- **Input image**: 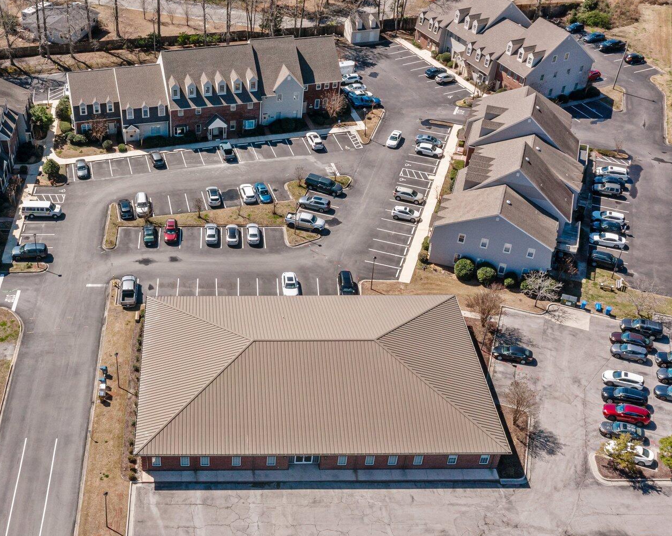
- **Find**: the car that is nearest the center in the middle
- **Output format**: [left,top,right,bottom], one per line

[337,269,356,296]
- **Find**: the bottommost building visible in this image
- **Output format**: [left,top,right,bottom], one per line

[133,295,513,469]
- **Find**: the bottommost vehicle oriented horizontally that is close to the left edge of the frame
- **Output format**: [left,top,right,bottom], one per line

[12,242,48,259]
